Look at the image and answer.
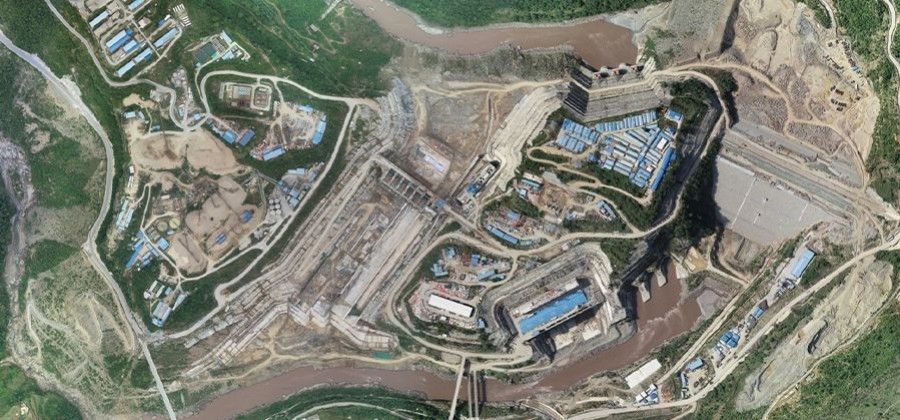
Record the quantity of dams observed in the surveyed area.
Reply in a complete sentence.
In total, 2 dams can be seen.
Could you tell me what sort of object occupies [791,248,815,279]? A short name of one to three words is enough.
building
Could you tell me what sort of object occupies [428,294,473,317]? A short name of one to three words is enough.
building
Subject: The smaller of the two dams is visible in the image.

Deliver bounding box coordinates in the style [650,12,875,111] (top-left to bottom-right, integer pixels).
[584,62,660,119]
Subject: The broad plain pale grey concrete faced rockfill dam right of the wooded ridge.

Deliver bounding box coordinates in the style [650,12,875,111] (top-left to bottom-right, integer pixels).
[715,155,830,245]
